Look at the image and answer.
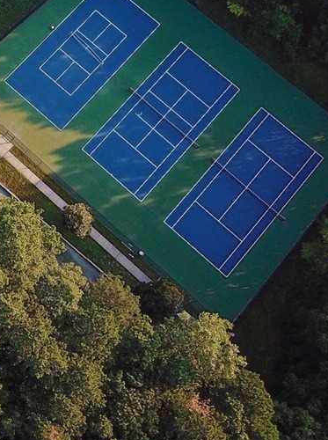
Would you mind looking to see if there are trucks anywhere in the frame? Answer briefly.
No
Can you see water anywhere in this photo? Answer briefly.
No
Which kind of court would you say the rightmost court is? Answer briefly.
tennis court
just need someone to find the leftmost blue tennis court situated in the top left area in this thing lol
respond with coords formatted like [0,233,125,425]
[7,0,162,130]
